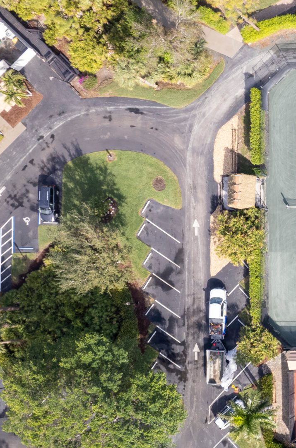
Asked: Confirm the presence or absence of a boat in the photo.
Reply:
No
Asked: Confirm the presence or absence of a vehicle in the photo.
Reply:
Yes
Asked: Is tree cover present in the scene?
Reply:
Yes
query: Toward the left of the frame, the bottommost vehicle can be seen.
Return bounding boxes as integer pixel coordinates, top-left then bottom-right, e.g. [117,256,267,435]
[37,184,58,223]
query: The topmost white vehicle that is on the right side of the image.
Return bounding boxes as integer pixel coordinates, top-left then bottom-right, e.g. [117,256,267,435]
[207,291,228,341]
